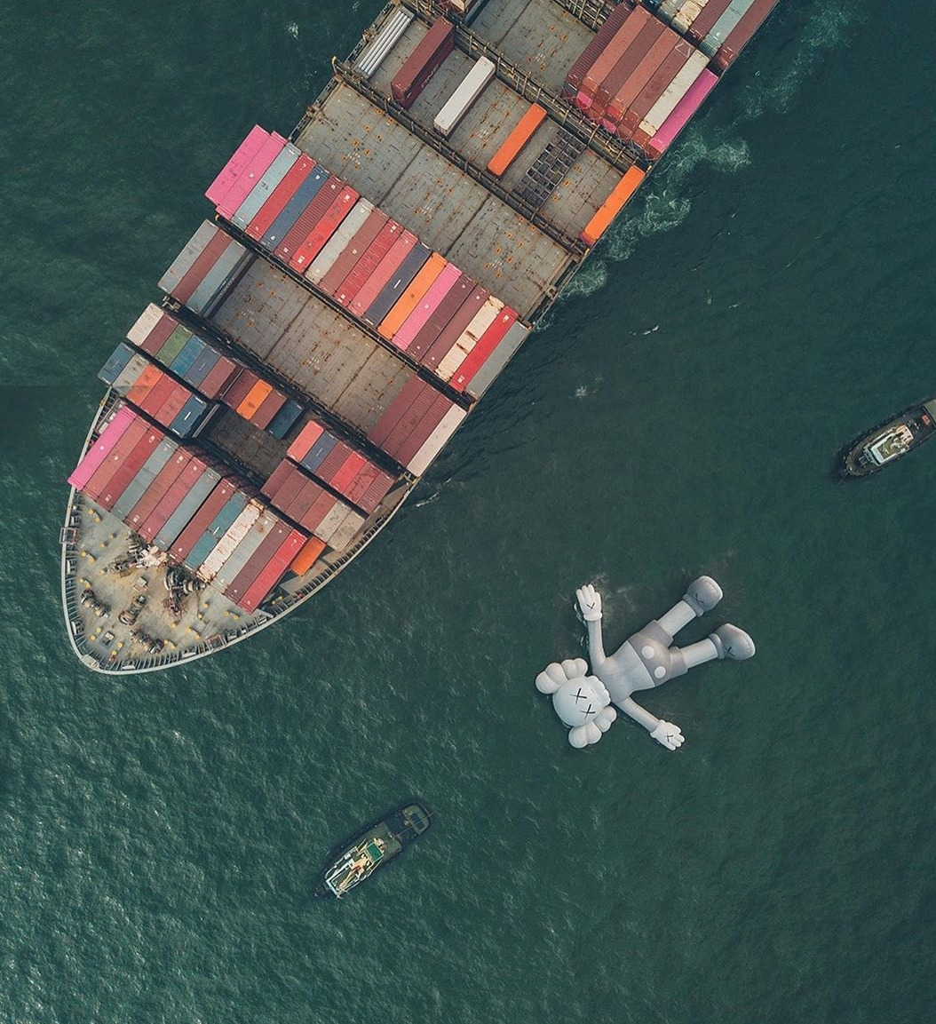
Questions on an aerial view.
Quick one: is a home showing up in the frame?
No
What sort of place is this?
port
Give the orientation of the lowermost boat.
at an angle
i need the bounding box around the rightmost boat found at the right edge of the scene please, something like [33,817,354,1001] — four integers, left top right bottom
[823,385,936,481]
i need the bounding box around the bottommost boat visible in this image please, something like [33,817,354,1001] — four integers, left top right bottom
[311,799,436,903]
